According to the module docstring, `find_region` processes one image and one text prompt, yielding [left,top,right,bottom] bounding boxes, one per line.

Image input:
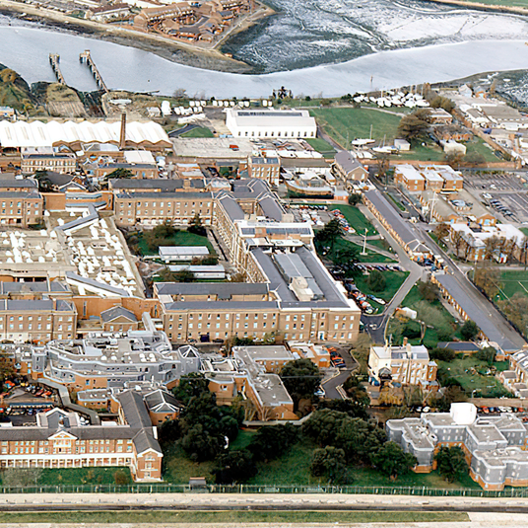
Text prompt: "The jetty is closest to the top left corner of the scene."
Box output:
[43,48,67,85]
